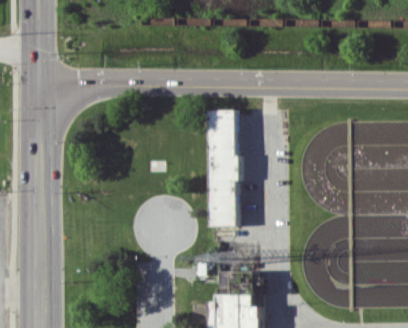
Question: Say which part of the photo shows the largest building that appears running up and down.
center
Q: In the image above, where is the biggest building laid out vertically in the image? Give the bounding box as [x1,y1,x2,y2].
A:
[208,109,244,227]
